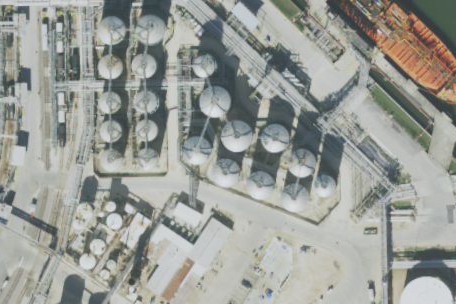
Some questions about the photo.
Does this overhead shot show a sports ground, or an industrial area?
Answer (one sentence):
This image shows an industrial area.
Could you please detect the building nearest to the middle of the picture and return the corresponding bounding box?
[172,202,204,229]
